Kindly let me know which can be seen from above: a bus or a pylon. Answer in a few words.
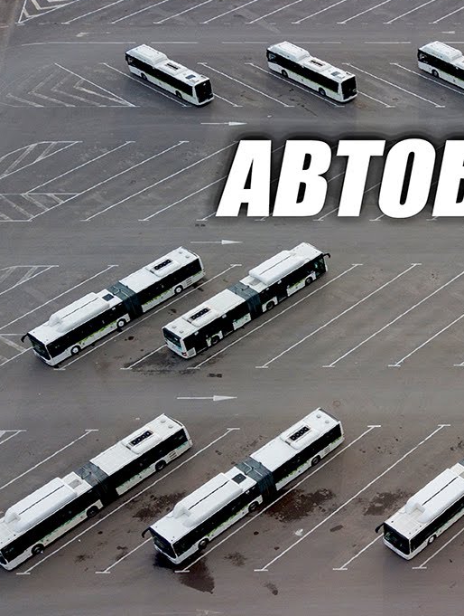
bus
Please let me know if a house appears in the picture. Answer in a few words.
No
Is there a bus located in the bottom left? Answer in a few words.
Yes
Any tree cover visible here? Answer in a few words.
No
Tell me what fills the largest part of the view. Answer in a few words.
paved ground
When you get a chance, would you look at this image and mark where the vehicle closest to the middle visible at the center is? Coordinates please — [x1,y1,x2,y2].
[166,243,331,359]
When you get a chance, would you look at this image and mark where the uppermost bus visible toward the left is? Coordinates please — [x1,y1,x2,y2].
[129,45,213,104]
